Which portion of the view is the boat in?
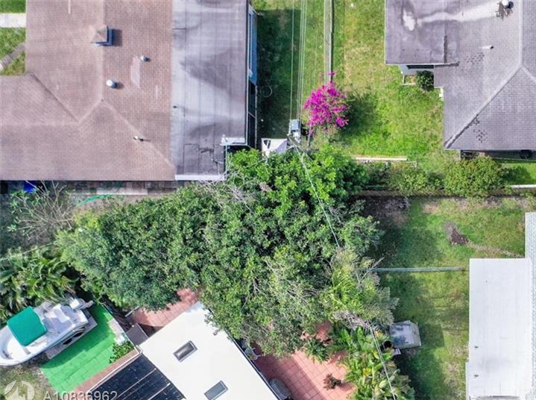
bottom left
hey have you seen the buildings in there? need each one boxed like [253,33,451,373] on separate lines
[66,302,281,400]
[0,0,266,181]
[390,321,425,349]
[465,212,536,400]
[385,0,536,160]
